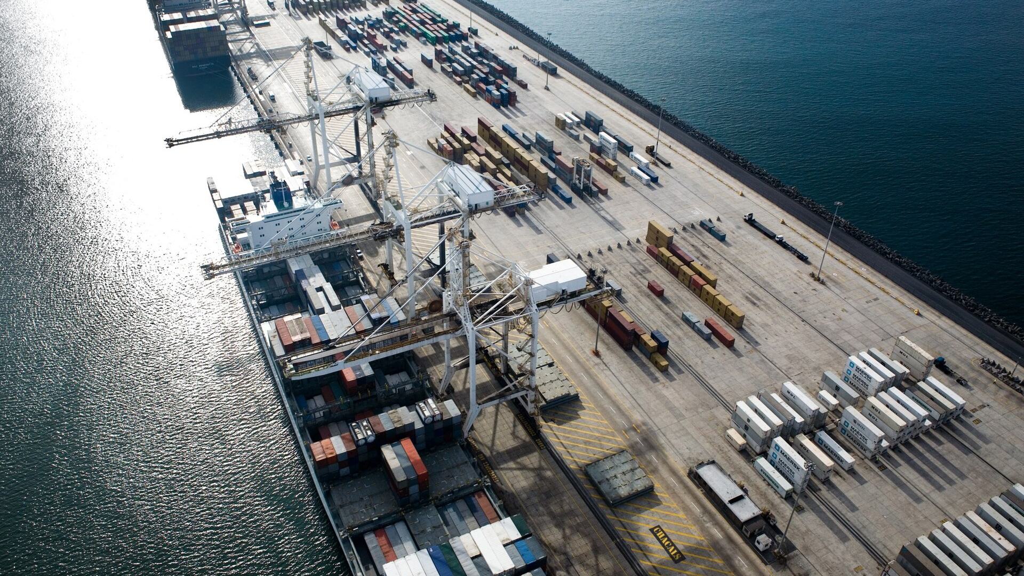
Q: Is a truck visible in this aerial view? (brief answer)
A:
Yes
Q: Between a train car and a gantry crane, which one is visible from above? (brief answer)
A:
gantry crane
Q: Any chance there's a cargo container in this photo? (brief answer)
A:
Yes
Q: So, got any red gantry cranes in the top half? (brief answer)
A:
No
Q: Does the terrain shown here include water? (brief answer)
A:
Yes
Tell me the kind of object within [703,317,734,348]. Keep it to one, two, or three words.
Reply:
shipping container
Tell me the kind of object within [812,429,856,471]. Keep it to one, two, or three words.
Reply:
shipping container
